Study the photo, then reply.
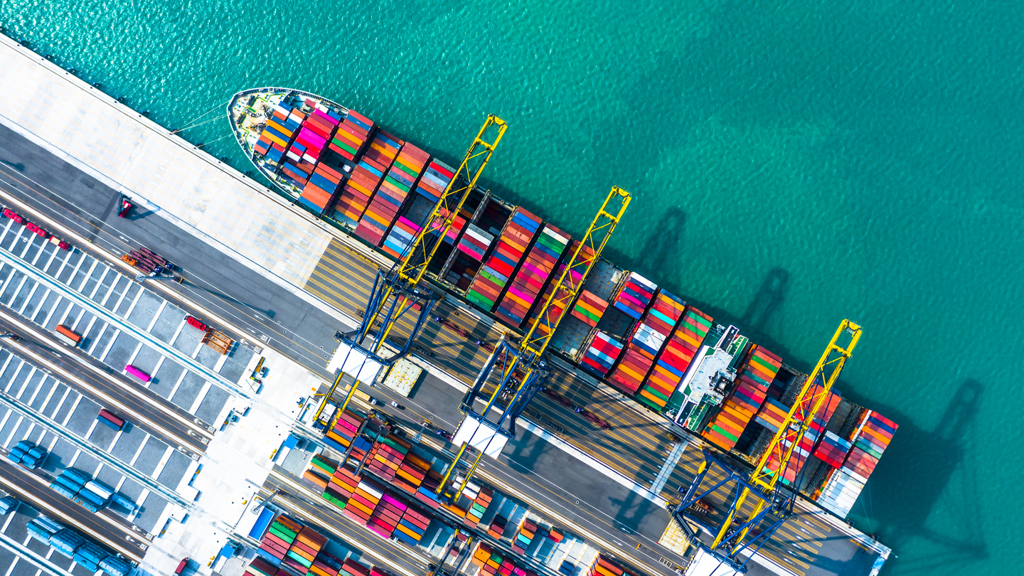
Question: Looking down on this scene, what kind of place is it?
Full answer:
This looks like a port.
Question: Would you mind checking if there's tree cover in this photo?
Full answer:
No, there is no tree cover in the image.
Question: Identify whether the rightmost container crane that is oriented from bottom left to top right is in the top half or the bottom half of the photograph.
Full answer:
The bottom half of the photo is where the rightmost container crane that is oriented from bottom left to top right is.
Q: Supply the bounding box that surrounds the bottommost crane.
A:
[428,518,475,576]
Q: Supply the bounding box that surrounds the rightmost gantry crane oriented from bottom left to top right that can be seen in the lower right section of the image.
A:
[661,320,862,576]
